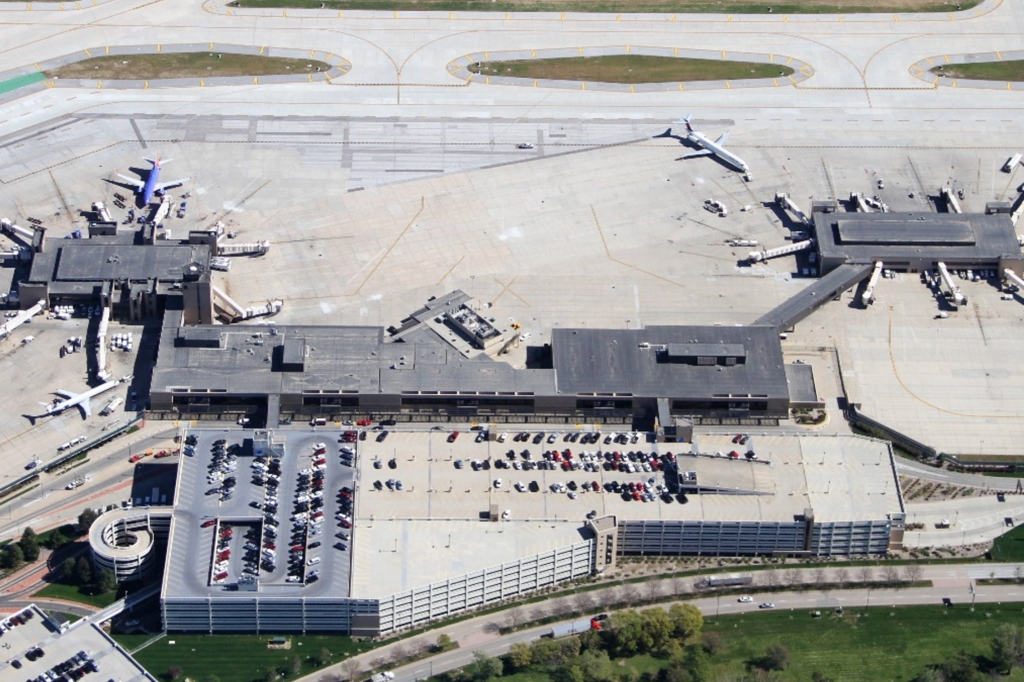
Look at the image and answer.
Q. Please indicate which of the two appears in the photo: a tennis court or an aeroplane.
aeroplane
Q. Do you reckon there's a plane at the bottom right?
No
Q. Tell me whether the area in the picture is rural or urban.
urban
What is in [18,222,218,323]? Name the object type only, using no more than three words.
building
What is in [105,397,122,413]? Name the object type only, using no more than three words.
vehicle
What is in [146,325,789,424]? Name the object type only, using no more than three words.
building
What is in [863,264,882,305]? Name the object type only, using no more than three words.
jet bridge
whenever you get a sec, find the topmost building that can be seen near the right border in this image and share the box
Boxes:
[811,201,1024,278]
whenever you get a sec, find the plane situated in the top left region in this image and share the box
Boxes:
[117,146,187,205]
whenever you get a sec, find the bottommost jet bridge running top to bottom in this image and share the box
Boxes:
[97,309,110,383]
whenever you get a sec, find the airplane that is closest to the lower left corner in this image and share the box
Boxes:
[36,381,119,422]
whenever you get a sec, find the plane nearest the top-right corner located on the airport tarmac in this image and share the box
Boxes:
[679,117,748,172]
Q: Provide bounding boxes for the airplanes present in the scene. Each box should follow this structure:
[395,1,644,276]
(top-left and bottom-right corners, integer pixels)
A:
[679,117,748,172]
[117,146,187,205]
[36,381,119,422]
